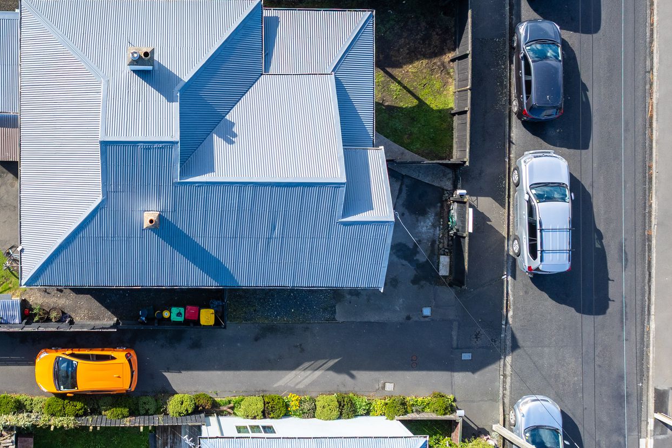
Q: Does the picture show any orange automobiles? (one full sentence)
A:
Yes, the image includes an orange automobile.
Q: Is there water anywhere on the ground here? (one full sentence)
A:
No, no water is visible.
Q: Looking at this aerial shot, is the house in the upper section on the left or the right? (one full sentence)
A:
It is on the left.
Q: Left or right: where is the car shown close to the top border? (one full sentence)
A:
It is on the right.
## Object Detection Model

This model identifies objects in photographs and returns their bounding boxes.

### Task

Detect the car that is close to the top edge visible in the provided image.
[506,20,567,122]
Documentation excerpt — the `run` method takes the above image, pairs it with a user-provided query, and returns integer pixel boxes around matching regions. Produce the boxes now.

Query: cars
[506,20,567,122]
[36,344,138,400]
[508,152,580,272]
[504,392,565,448]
